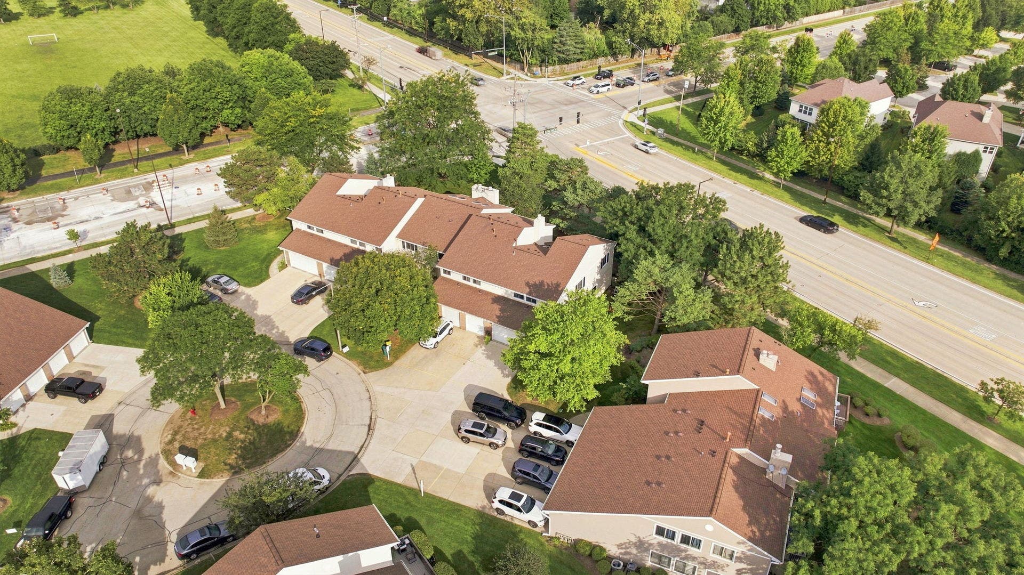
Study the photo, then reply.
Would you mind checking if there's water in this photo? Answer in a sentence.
No, the picture contains no water.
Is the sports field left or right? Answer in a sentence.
The sports field sits on the left side.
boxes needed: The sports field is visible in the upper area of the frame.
[0,0,253,139]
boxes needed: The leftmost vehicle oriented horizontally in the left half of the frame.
[39,375,106,403]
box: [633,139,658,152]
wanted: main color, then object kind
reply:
white vehicle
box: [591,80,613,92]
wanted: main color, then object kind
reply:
white vehicle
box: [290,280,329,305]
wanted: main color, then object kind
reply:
gray car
